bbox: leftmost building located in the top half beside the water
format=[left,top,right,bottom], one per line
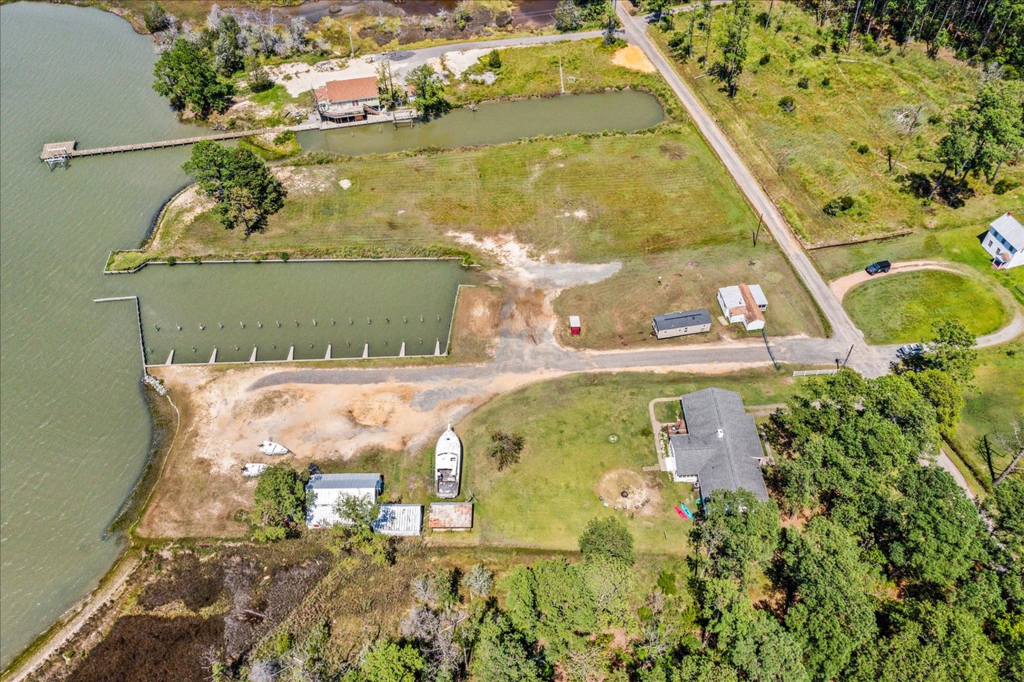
[313,76,380,126]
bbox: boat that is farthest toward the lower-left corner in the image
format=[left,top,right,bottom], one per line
[238,464,277,479]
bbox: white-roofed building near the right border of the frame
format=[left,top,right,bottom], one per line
[982,210,1024,286]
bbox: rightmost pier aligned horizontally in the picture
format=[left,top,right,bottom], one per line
[298,110,419,134]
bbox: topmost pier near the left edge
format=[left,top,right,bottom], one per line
[39,130,291,164]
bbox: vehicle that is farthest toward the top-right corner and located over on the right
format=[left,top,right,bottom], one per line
[865,260,891,274]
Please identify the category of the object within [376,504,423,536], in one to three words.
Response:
shed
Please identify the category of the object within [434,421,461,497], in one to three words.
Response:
boat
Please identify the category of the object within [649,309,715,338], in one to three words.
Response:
house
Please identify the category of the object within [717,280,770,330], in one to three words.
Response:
house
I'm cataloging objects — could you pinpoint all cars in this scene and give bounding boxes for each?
[899,340,928,355]
[865,260,891,274]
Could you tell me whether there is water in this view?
Yes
